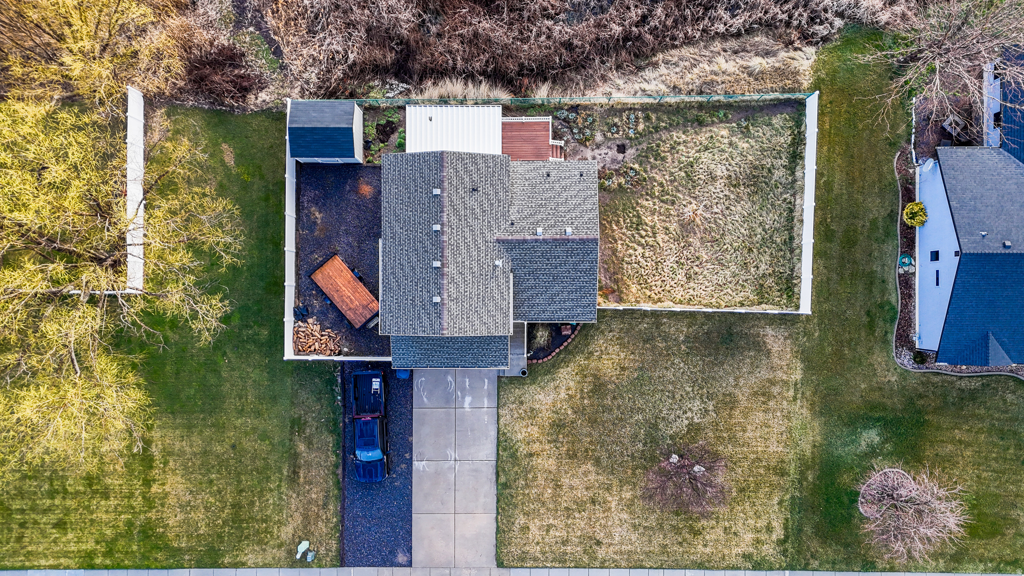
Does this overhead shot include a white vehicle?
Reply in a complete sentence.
No, I can see no white vehicle in this picture.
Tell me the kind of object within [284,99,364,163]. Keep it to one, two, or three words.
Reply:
shed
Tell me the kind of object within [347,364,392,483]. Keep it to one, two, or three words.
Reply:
truck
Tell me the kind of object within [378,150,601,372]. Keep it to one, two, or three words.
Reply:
house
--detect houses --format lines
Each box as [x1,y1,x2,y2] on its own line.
[915,43,1024,367]
[378,150,601,372]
